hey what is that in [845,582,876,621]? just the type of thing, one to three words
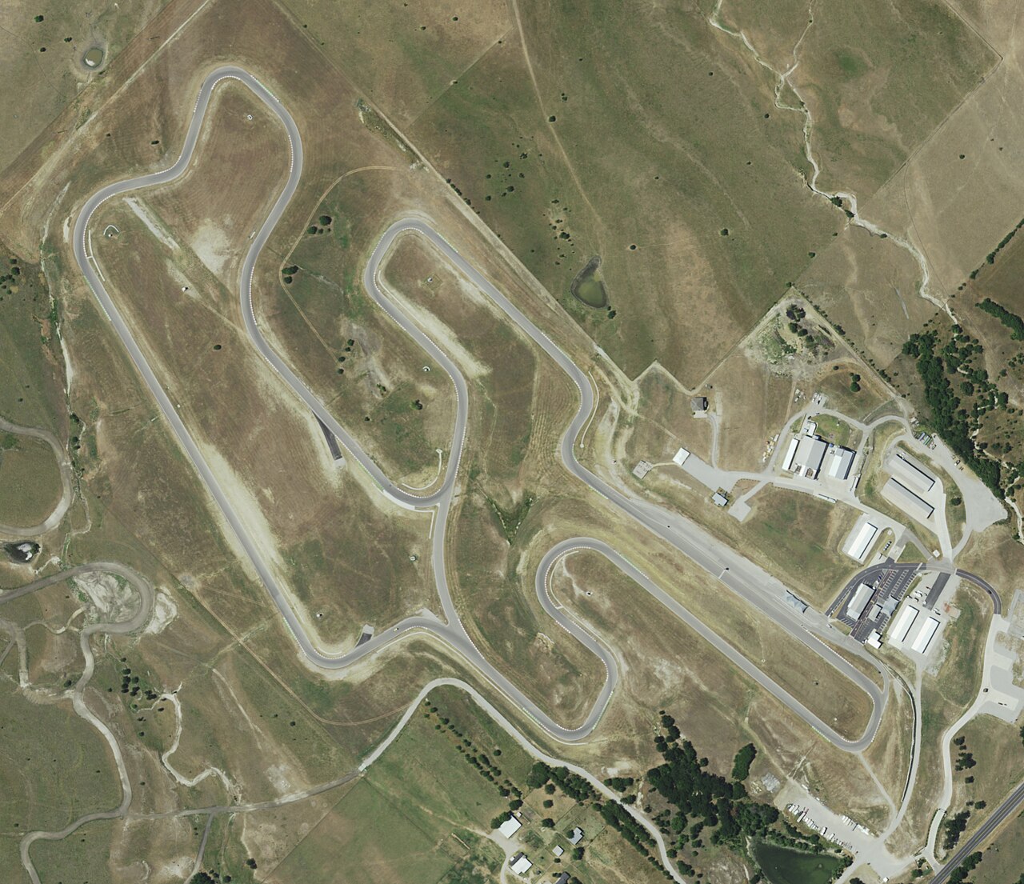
building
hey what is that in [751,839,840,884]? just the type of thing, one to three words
pond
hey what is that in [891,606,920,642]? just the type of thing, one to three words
hangar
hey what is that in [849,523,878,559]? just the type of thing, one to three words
hangar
